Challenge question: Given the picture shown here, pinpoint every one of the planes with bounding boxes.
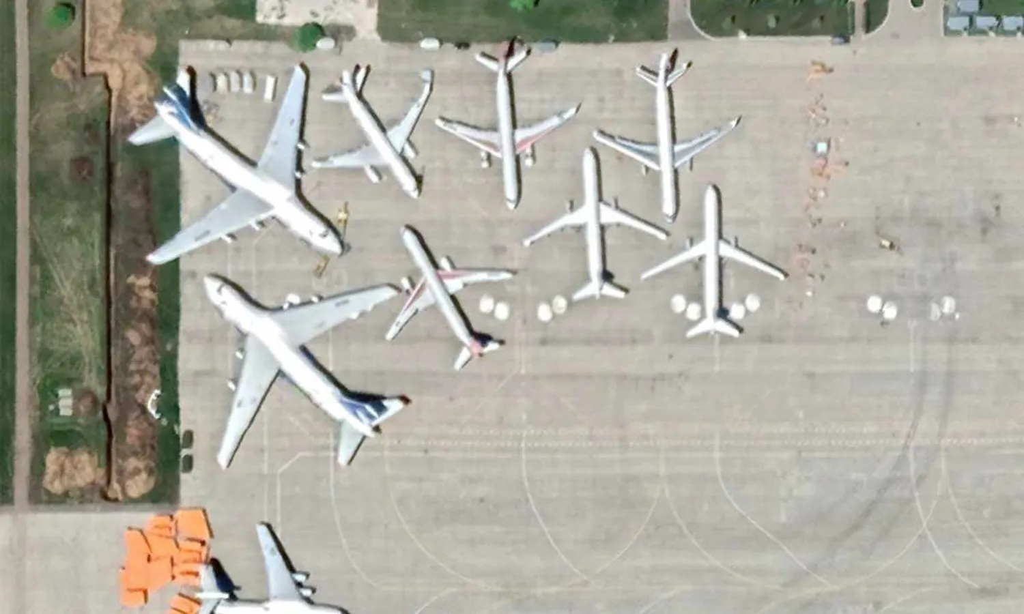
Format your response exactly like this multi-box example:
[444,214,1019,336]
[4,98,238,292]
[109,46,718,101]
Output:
[434,45,579,209]
[195,525,347,614]
[386,227,515,371]
[303,68,437,198]
[522,147,668,298]
[203,279,411,470]
[123,70,343,259]
[593,58,738,223]
[641,184,786,336]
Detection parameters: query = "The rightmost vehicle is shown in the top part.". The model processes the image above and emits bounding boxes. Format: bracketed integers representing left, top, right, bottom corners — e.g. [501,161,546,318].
[874,235,901,253]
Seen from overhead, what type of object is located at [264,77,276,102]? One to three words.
vehicle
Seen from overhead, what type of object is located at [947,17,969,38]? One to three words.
building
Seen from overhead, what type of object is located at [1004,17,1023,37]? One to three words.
building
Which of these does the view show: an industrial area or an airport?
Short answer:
airport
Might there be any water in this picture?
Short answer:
No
